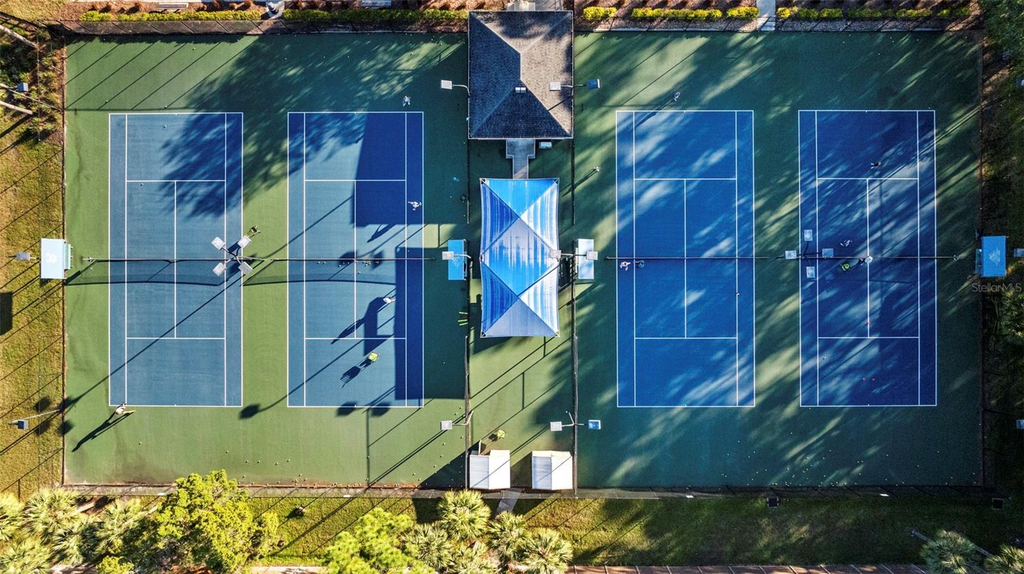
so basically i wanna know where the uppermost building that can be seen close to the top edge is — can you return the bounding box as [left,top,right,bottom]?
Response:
[467,8,575,142]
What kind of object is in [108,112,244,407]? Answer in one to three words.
tennis court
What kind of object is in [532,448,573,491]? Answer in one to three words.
shed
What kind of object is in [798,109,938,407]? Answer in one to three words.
tennis court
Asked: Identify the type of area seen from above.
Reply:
sports ground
